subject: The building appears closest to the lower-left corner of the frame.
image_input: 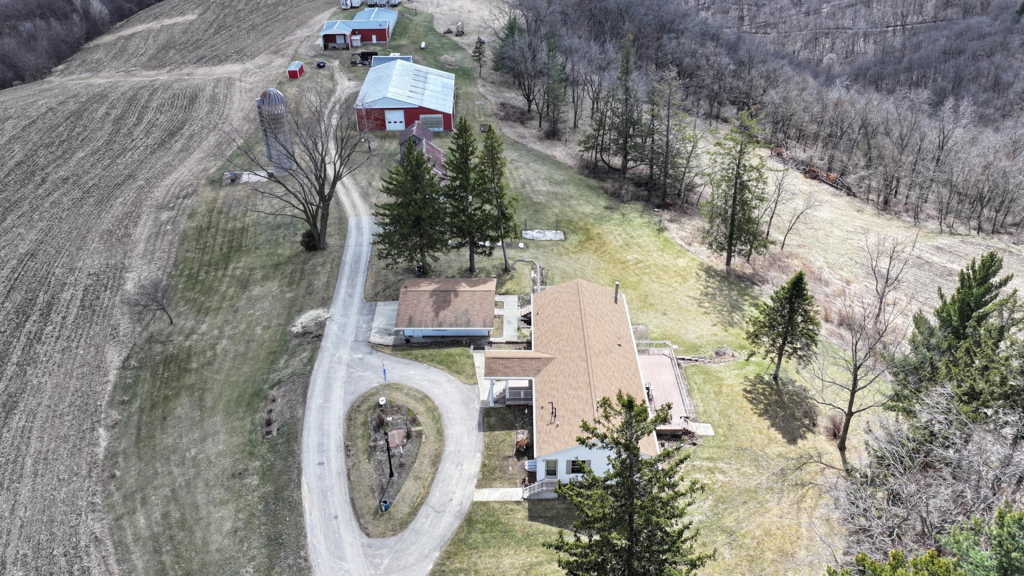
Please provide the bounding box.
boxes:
[394,277,496,337]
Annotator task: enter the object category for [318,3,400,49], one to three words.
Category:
building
